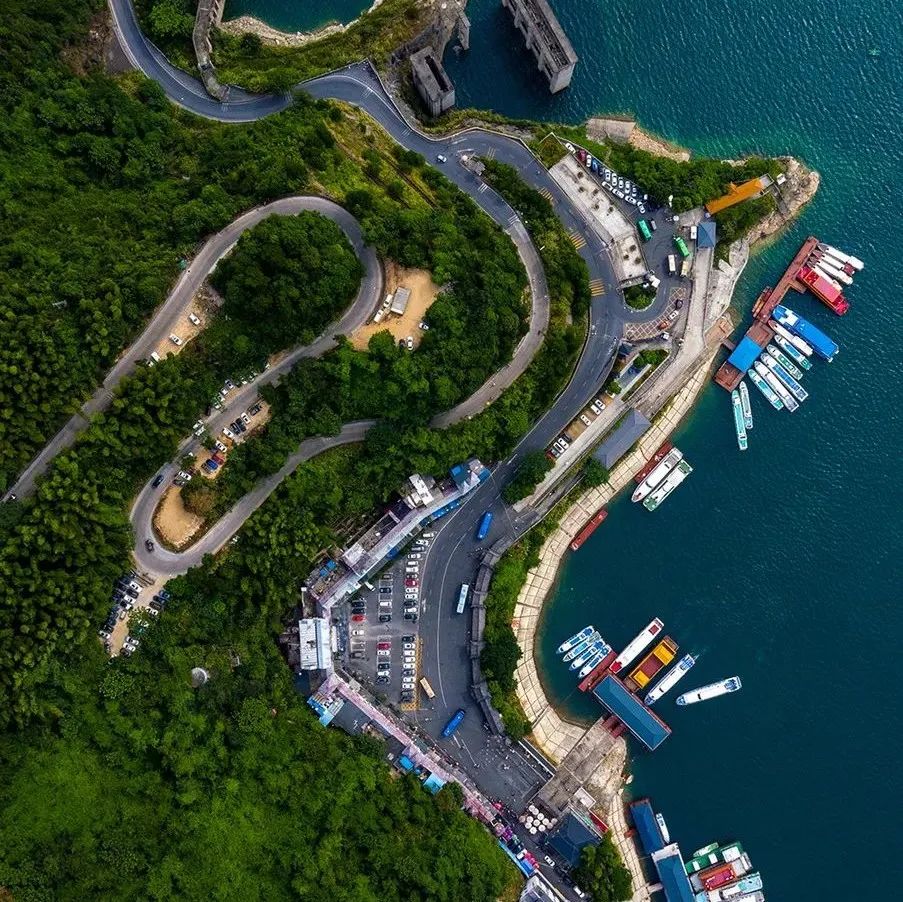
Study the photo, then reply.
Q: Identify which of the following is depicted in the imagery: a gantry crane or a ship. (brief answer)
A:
ship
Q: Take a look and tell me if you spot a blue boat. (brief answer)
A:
Yes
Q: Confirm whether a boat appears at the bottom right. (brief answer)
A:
Yes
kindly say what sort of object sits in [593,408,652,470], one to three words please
building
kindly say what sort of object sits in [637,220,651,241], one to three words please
vehicle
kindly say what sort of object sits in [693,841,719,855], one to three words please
boat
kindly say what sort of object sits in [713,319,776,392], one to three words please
pier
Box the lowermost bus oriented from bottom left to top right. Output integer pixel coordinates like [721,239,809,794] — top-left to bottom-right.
[443,709,466,736]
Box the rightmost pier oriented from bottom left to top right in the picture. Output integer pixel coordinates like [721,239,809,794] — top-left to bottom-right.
[757,236,820,324]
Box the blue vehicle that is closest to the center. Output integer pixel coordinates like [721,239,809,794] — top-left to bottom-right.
[477,512,493,539]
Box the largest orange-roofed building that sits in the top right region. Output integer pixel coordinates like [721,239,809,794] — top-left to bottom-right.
[703,179,764,216]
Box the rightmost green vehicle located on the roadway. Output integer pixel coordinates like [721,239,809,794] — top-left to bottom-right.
[673,238,689,257]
